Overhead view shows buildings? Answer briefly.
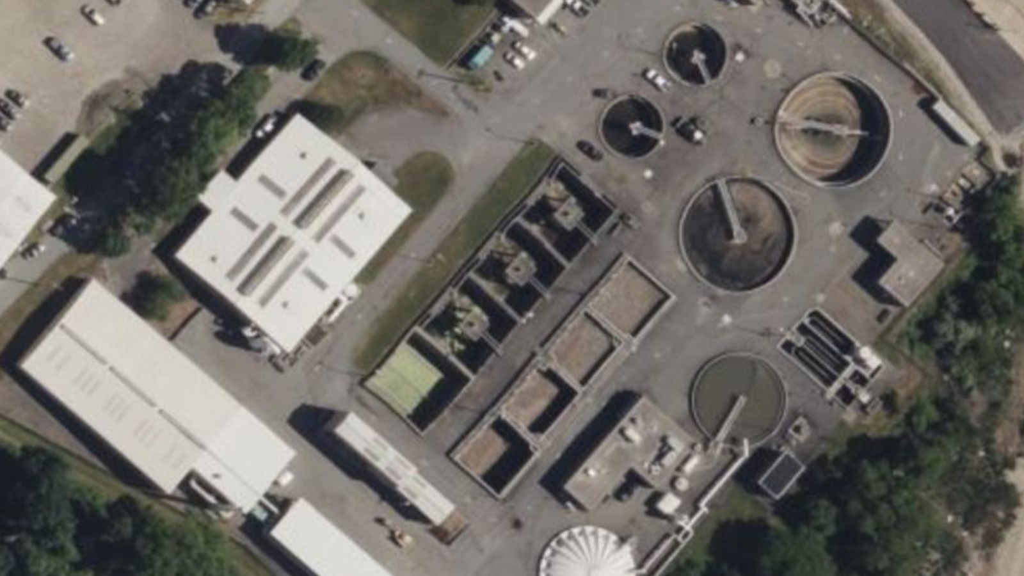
Yes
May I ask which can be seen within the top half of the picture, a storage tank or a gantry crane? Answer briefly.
storage tank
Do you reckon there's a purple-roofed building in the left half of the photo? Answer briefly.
No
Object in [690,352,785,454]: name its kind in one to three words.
storage tank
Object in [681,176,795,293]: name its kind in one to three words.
storage tank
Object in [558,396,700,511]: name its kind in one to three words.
building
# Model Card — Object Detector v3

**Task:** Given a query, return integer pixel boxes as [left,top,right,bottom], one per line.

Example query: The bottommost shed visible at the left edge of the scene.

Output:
[18,280,295,513]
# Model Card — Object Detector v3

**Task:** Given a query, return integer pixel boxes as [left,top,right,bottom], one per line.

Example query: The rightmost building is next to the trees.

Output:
[870,220,944,306]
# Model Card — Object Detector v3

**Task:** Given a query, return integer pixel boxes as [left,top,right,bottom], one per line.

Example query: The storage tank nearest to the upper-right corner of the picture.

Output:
[774,72,890,188]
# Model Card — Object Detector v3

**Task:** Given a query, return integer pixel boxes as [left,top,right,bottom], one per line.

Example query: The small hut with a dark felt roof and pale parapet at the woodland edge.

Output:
[751,451,805,499]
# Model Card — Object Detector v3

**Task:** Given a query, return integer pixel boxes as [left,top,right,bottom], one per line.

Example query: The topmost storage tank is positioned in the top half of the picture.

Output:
[664,22,726,85]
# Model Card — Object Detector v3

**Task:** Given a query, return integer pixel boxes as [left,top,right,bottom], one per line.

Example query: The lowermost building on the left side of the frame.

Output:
[266,497,392,576]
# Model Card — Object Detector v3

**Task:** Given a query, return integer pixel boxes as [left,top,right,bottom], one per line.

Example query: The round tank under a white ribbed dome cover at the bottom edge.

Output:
[540,524,648,576]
